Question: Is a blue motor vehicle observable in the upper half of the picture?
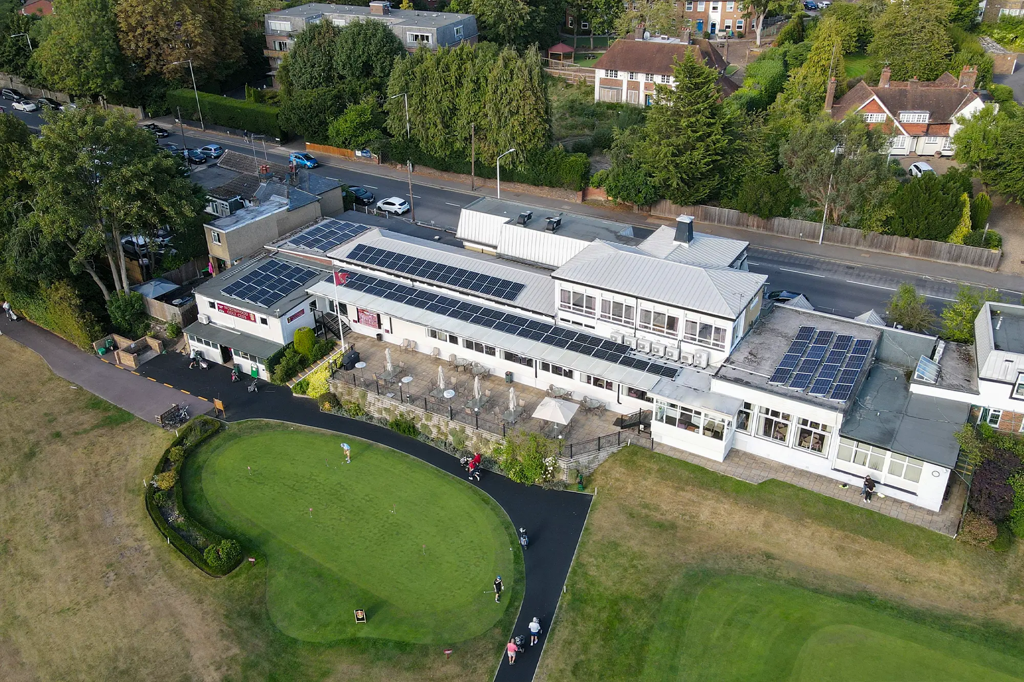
Yes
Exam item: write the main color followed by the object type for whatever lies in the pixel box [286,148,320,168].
blue car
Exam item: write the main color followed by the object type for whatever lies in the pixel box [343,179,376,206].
black car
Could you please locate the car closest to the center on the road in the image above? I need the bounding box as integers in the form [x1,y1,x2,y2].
[373,193,411,214]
